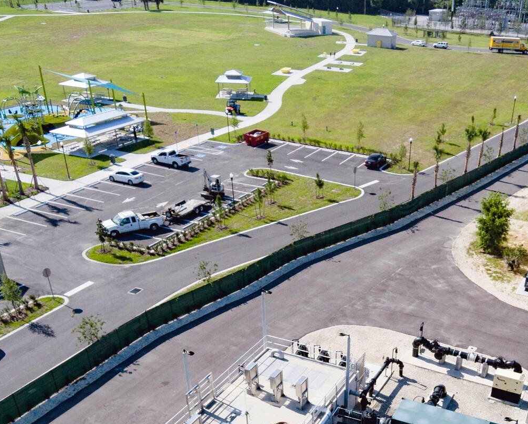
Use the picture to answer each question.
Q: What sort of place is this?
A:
industrial area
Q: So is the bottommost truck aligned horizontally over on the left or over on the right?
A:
left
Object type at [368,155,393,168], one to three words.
vehicle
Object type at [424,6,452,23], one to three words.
building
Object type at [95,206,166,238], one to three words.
truck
